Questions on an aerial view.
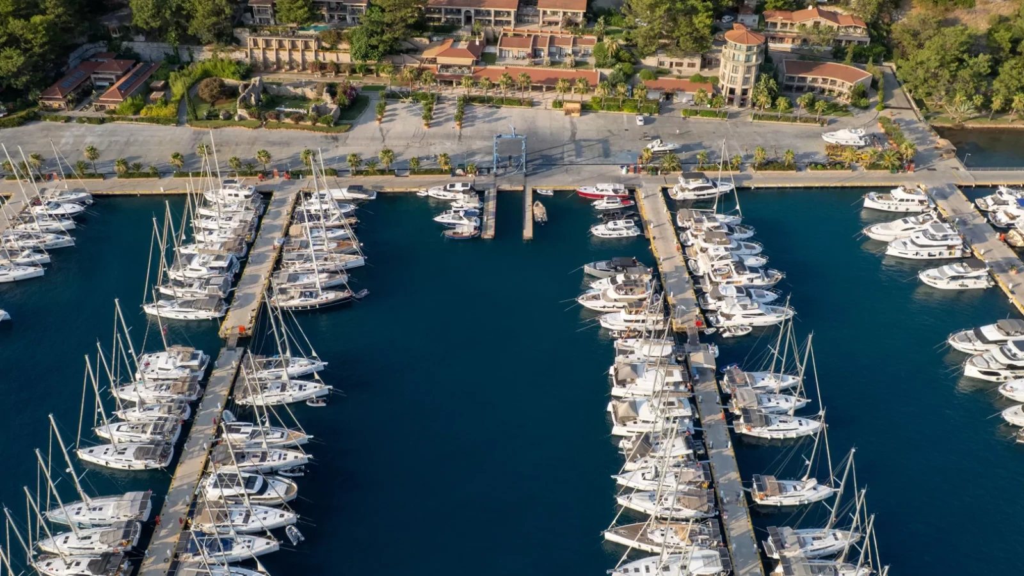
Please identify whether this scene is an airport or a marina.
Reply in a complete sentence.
It's a marina.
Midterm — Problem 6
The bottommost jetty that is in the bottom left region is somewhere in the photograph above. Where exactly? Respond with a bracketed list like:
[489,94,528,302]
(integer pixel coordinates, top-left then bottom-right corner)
[135,346,246,576]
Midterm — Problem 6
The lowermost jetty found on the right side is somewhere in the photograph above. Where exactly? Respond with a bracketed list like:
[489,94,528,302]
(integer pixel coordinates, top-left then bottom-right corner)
[683,344,769,576]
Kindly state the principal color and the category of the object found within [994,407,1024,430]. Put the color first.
white boat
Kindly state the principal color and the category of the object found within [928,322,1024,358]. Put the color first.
white boat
